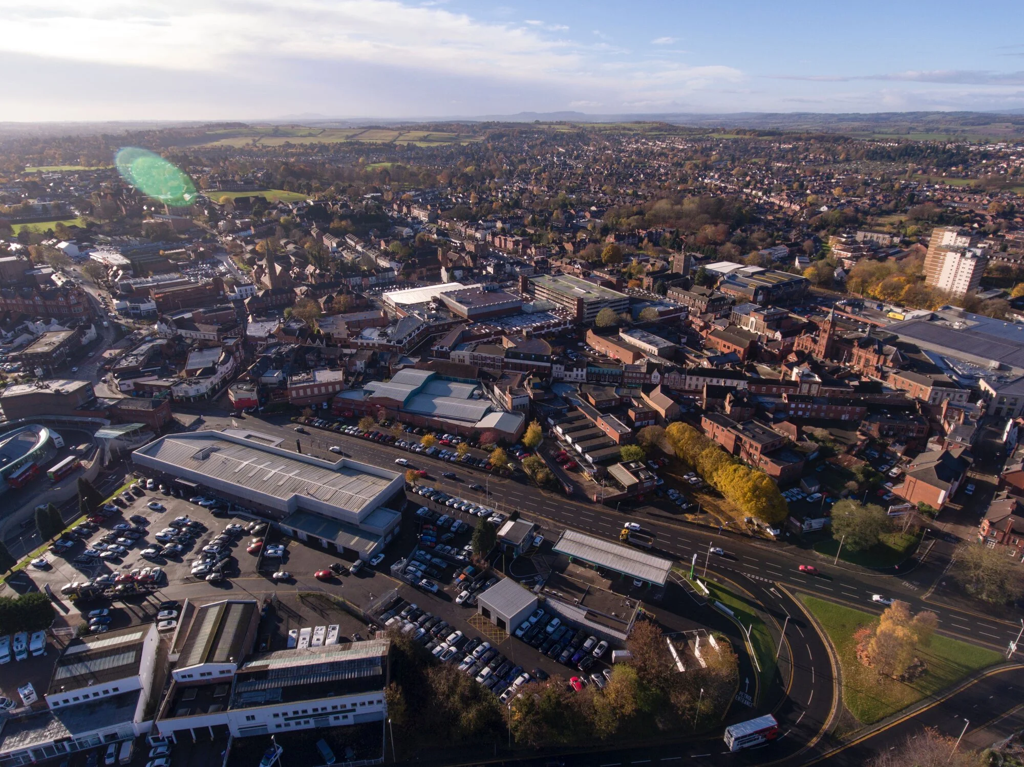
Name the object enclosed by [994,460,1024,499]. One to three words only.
house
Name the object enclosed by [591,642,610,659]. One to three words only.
car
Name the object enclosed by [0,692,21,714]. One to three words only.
vehicle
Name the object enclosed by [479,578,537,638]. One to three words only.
building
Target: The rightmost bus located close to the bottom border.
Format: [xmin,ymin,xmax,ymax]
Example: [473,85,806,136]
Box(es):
[723,707,786,748]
